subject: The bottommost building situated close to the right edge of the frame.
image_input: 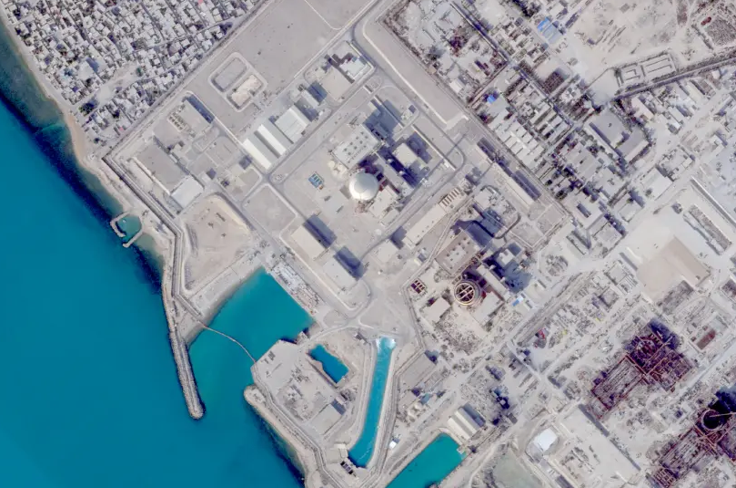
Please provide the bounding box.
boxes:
[661,431,709,477]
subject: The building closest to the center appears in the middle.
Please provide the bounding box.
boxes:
[372,240,399,264]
